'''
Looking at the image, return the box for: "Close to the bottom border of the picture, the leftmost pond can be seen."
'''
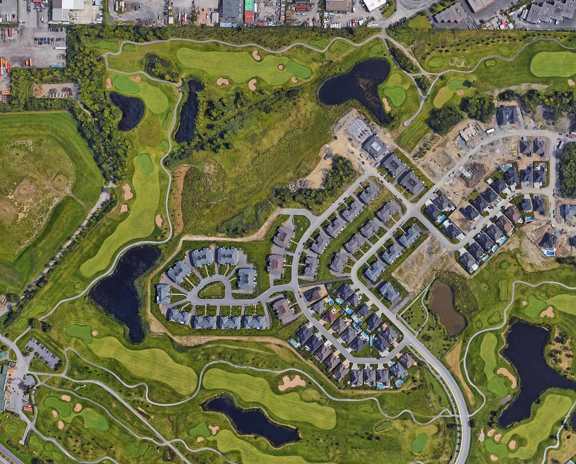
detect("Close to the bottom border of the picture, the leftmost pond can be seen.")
[201,395,299,448]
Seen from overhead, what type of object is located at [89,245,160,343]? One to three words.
pond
